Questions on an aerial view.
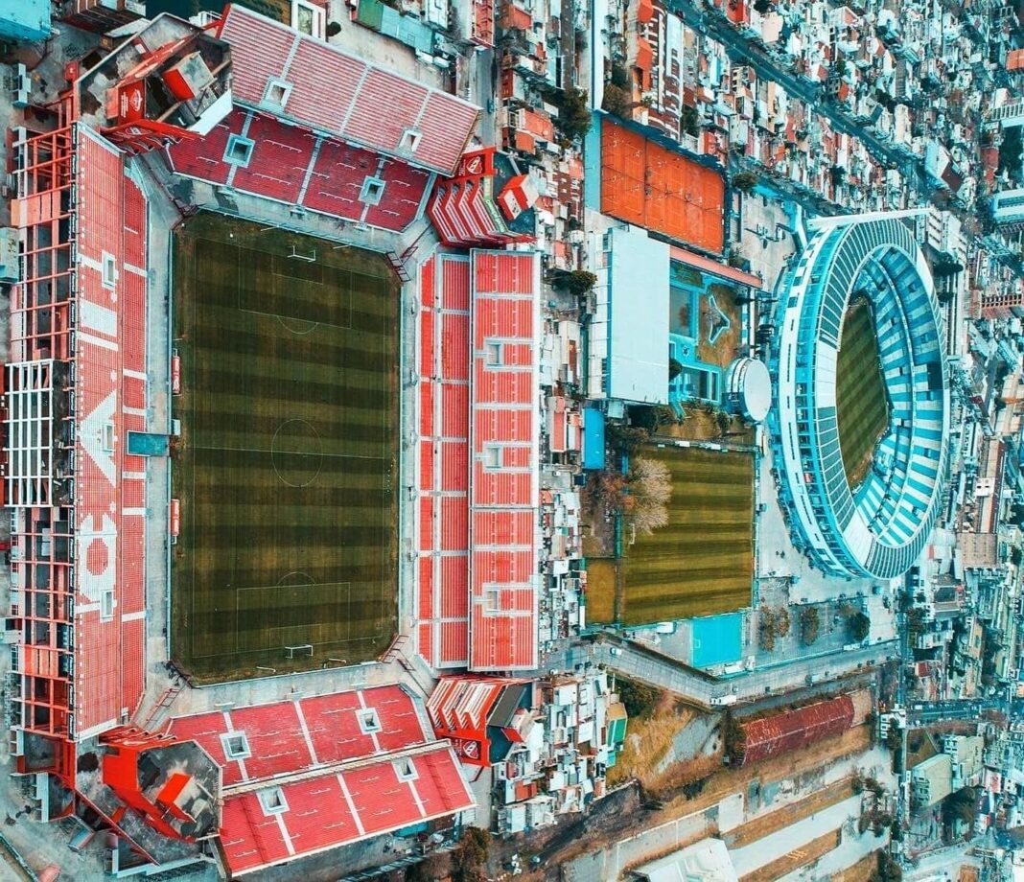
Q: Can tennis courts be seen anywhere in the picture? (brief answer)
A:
Yes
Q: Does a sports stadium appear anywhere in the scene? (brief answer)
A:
Yes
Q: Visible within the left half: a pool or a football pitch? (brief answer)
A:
football pitch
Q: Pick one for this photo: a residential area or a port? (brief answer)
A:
residential area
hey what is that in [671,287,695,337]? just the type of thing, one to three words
swimming pool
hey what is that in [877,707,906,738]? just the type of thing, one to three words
house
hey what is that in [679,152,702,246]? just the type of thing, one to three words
tennis court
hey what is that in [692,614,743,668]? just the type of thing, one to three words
sports court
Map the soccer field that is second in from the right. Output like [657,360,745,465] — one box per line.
[620,448,754,624]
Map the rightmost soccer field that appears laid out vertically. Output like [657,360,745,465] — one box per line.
[838,297,891,475]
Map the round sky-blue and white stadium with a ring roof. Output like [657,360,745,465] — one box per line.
[764,208,950,578]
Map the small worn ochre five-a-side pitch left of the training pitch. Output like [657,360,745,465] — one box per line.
[588,559,615,622]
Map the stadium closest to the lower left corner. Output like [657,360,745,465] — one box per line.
[0,5,547,882]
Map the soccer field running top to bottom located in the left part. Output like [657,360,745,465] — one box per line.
[174,209,401,684]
